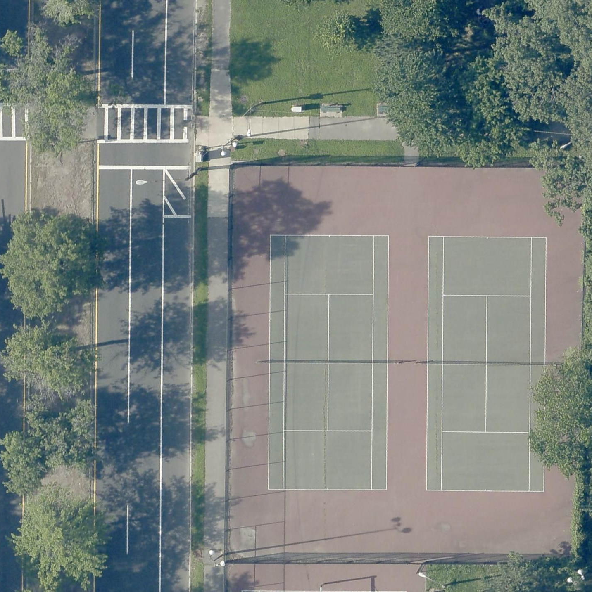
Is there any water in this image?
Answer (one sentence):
No, there is no water in the image.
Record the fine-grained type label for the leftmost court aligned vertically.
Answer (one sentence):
It turns out the leftmost court aligned vertically is a tennis court.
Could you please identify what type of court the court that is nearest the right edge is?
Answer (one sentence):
In the photo, the court that is nearest the right edge shows up as a tennis court.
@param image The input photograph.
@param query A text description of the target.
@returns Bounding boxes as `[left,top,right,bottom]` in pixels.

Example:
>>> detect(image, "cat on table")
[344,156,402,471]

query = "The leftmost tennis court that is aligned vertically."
[268,235,389,543]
